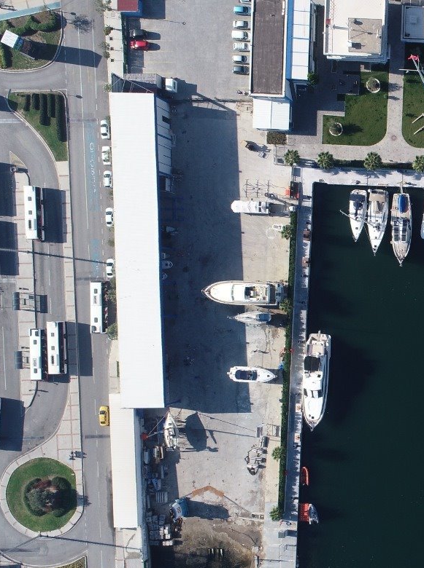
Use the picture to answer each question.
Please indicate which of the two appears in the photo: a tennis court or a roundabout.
roundabout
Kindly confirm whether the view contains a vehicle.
Yes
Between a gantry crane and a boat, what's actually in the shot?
boat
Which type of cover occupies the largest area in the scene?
paved ground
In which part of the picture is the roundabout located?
bottom left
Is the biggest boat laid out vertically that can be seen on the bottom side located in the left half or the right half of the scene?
right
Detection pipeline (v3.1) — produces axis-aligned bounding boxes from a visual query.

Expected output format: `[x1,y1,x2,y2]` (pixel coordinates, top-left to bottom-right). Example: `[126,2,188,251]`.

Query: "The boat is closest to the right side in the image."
[385,181,413,266]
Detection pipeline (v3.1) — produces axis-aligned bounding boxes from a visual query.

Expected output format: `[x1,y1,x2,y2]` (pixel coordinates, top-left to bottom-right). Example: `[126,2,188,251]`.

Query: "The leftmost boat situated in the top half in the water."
[339,187,367,241]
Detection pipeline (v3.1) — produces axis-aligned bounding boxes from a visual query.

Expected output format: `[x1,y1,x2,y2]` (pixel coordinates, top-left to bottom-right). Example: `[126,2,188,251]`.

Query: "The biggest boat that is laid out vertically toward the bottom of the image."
[300,326,332,430]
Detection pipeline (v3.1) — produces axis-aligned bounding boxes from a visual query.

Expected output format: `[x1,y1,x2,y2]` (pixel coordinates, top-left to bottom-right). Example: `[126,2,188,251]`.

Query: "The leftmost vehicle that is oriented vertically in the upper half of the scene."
[26,187,46,240]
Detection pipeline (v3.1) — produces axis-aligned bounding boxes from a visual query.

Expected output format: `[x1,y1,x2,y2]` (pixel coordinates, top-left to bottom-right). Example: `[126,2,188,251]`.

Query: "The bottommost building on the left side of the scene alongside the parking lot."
[109,92,177,409]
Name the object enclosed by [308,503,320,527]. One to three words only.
boat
